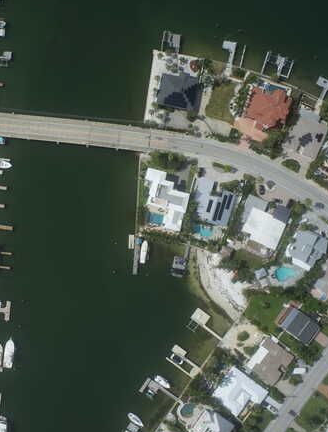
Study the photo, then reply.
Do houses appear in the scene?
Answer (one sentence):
Yes, the photo shows a house.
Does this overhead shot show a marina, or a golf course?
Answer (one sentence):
The area seen from above is a marina.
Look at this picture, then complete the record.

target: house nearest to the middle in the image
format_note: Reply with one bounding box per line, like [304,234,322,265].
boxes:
[144,168,190,231]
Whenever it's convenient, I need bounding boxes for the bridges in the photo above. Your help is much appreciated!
[0,111,153,152]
